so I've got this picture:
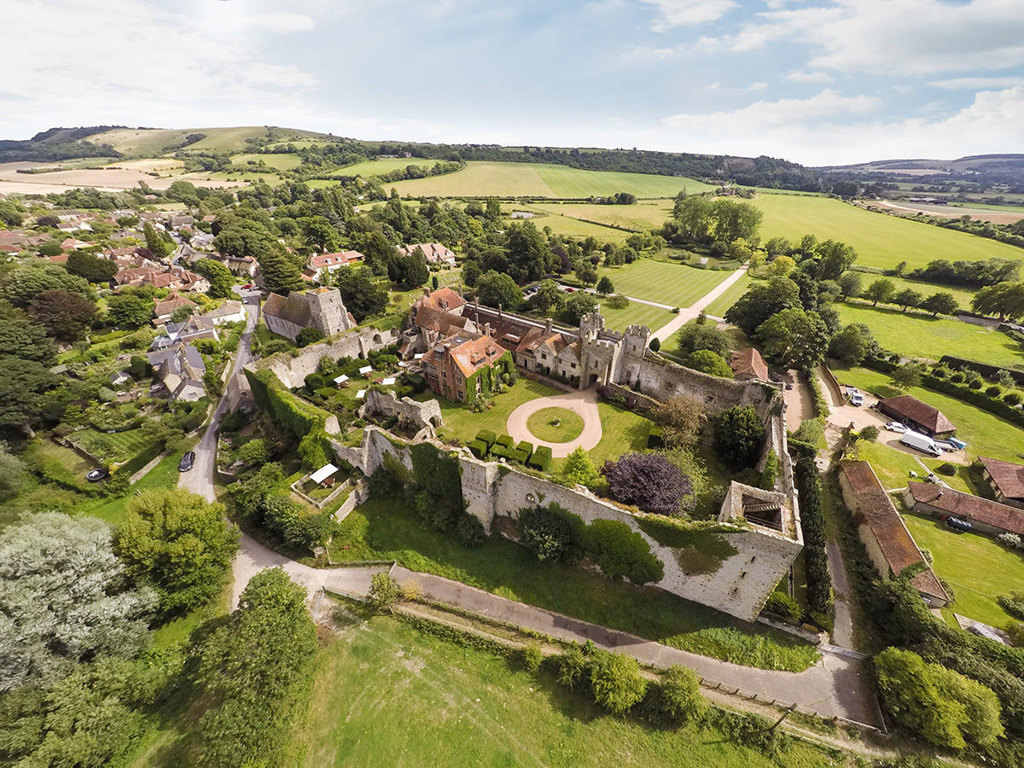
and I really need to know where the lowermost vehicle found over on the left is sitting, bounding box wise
[178,451,193,467]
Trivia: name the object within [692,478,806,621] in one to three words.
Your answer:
building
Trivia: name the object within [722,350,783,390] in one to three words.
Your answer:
barn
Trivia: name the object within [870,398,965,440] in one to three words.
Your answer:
shed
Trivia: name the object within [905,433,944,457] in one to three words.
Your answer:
vehicle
